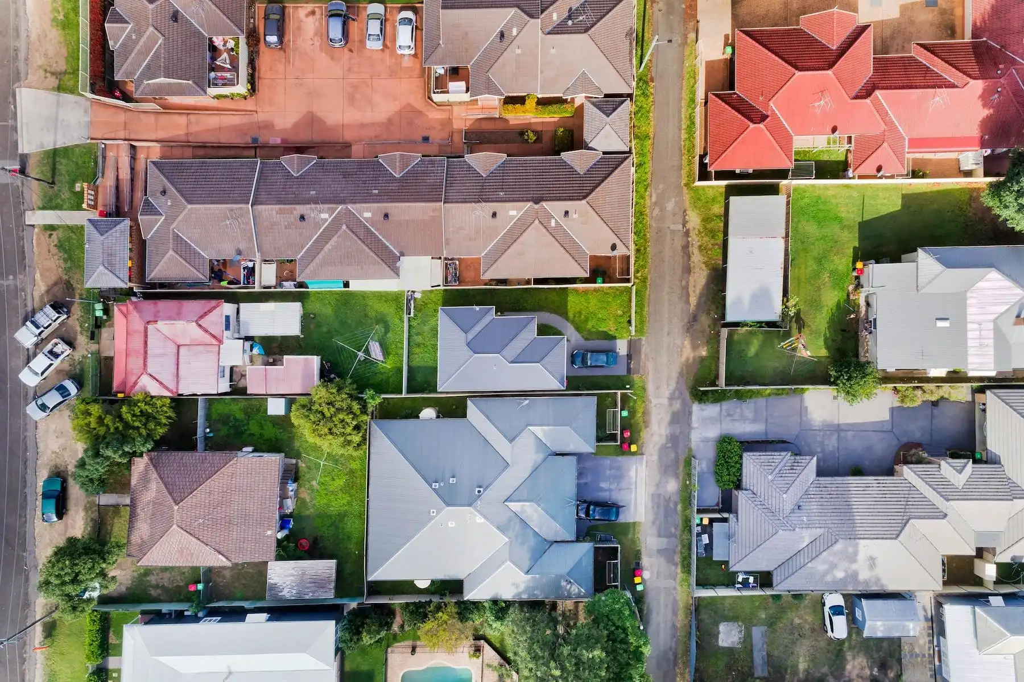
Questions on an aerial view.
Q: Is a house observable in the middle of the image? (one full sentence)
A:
Yes, a house is visible in the middle of the image.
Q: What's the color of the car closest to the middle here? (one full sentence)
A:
The car closest to the middle is blue.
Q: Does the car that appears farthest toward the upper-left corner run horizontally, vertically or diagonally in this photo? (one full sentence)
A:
The car that appears farthest toward the upper-left corner has been laid out vertically relative to the frame.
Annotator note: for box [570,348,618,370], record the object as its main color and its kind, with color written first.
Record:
blue car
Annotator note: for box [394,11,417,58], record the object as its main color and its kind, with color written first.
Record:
white car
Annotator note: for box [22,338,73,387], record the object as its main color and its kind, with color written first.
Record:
white car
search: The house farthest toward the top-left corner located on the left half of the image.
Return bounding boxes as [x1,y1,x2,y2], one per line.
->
[104,0,249,100]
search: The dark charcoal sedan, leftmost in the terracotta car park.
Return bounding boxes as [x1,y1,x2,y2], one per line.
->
[263,5,285,51]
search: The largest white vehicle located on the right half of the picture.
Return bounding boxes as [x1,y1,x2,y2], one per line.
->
[819,593,845,639]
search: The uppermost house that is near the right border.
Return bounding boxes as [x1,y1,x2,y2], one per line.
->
[707,0,1024,175]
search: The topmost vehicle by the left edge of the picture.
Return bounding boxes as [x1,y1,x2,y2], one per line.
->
[16,302,70,348]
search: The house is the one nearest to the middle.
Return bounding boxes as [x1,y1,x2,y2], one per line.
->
[437,305,568,392]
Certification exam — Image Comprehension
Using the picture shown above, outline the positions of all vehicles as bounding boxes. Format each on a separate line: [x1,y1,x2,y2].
[578,499,622,521]
[29,379,81,420]
[22,338,73,387]
[364,4,386,52]
[394,11,417,58]
[16,302,70,348]
[570,348,618,370]
[326,3,356,48]
[263,5,285,51]
[42,477,68,522]
[819,593,845,639]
